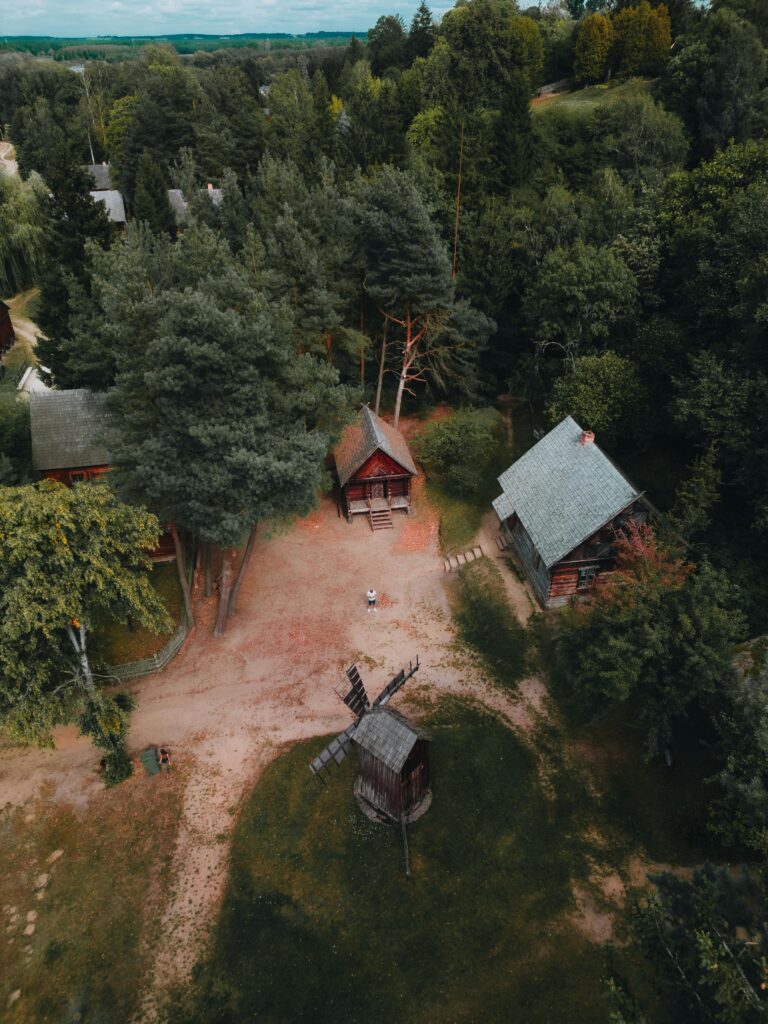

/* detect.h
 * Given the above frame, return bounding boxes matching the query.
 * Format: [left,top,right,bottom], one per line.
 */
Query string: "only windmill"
[306,658,438,879]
